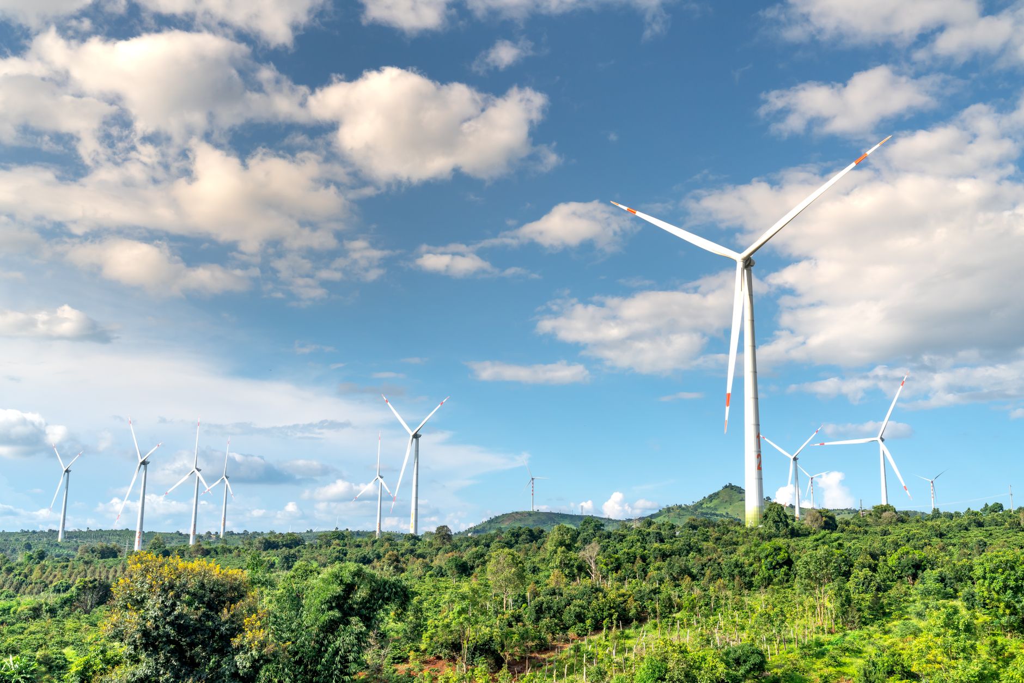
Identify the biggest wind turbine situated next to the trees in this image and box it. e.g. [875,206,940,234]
[611,136,890,523]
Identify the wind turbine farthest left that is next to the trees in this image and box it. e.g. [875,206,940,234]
[49,447,83,545]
